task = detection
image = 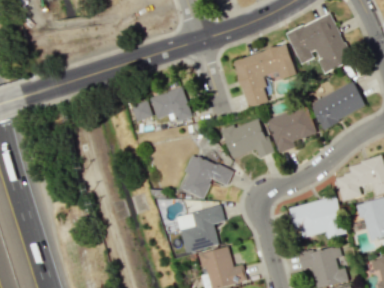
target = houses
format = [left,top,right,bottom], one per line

[181,154,235,198]
[131,101,154,122]
[177,204,226,253]
[373,256,384,288]
[290,198,346,238]
[358,198,384,243]
[268,108,316,153]
[286,14,348,64]
[200,246,248,288]
[223,119,274,158]
[315,82,366,128]
[150,86,194,122]
[234,44,295,108]
[300,246,350,288]
[336,150,384,202]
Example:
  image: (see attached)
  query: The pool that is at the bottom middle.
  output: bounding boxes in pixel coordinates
[167,202,184,220]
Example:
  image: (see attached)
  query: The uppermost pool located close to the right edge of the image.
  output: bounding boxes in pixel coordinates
[358,233,376,252]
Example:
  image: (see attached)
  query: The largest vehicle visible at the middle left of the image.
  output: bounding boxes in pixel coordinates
[2,144,18,182]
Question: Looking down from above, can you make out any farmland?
No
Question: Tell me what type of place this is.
residential area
